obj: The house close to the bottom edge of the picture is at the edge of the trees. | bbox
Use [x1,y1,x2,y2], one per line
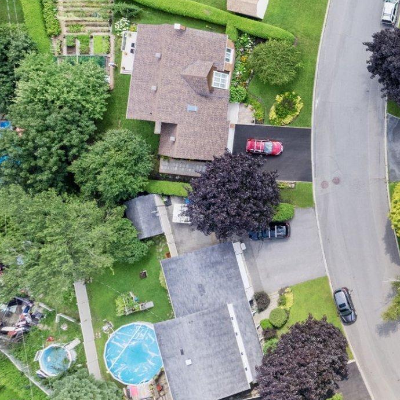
[153,241,278,400]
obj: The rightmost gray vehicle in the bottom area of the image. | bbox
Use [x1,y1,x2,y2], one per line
[334,285,358,324]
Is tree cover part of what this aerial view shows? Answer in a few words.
Yes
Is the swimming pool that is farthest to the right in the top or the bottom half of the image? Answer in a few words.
bottom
